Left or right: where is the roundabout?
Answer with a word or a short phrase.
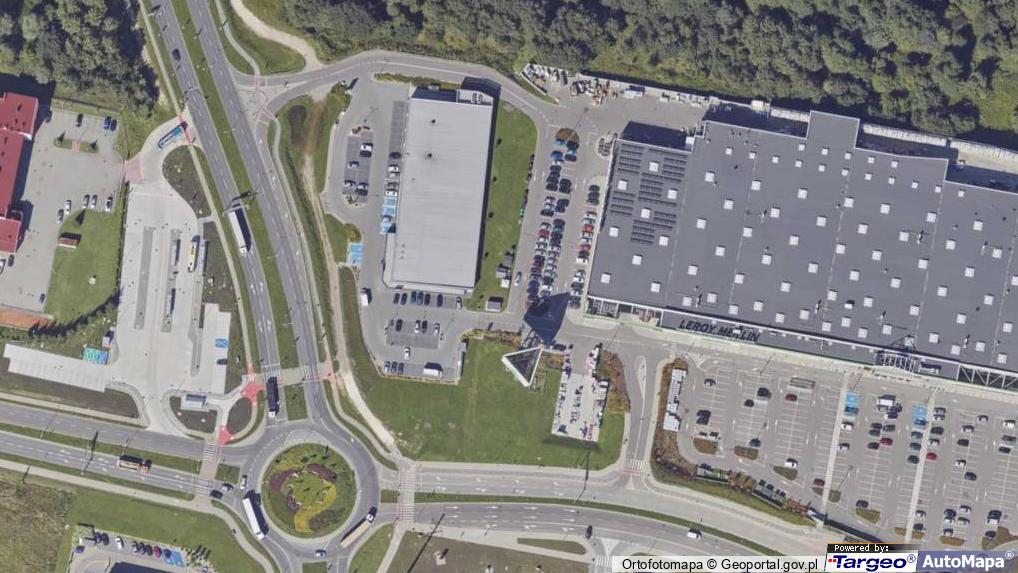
left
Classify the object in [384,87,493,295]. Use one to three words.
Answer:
building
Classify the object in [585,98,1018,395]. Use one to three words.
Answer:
building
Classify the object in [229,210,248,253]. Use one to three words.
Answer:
vehicle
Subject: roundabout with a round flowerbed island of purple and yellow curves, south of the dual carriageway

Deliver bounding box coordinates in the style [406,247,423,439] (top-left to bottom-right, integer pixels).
[240,422,379,561]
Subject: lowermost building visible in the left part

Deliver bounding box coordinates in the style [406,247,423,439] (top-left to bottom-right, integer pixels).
[180,393,209,411]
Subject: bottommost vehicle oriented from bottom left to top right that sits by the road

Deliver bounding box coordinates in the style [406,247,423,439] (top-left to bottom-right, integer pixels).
[340,515,375,546]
